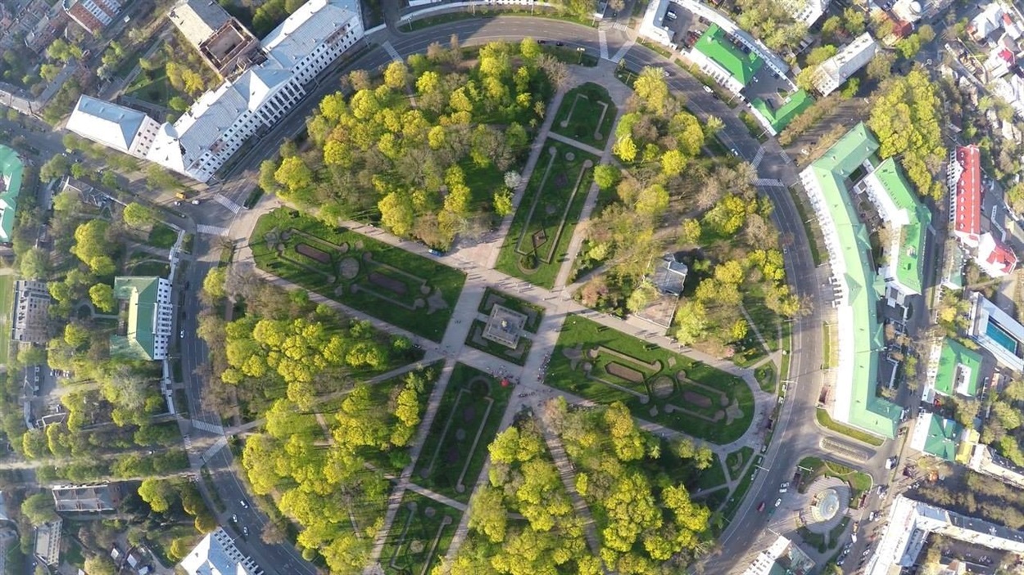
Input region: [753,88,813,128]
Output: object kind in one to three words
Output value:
house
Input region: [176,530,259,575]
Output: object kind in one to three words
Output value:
building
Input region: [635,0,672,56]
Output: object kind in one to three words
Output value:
house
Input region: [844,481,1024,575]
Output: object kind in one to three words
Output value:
building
